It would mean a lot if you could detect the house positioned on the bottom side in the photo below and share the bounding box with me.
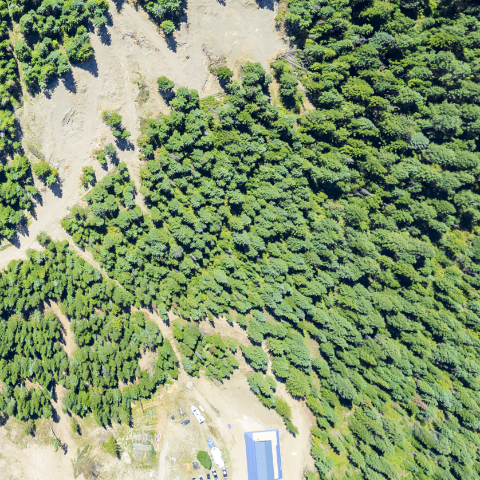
[244,427,283,480]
